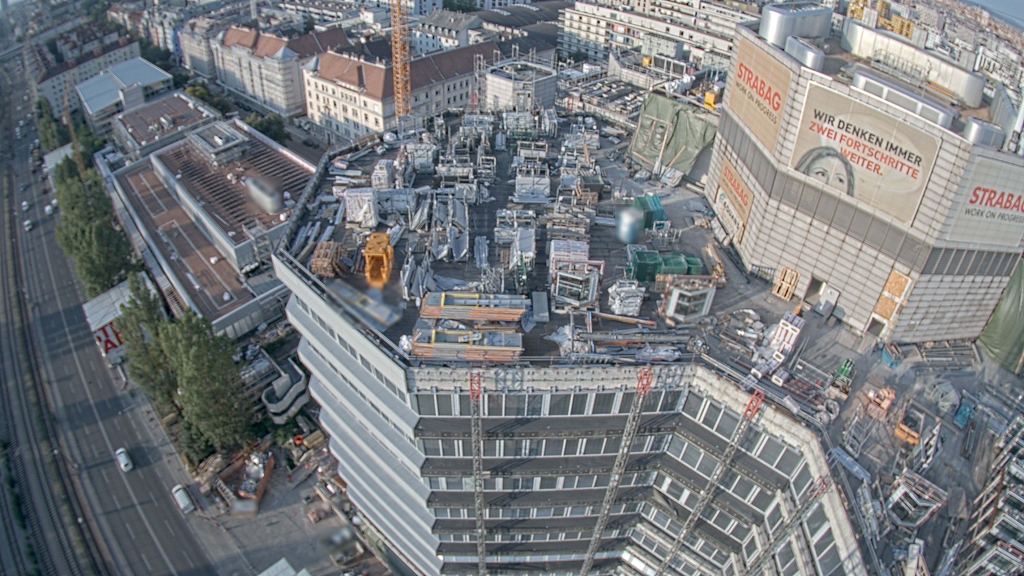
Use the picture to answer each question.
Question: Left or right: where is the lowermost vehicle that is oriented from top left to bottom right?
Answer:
left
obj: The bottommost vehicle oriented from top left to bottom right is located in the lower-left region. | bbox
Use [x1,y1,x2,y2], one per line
[172,485,199,518]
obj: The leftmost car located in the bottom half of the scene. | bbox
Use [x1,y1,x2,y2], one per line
[115,448,135,476]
